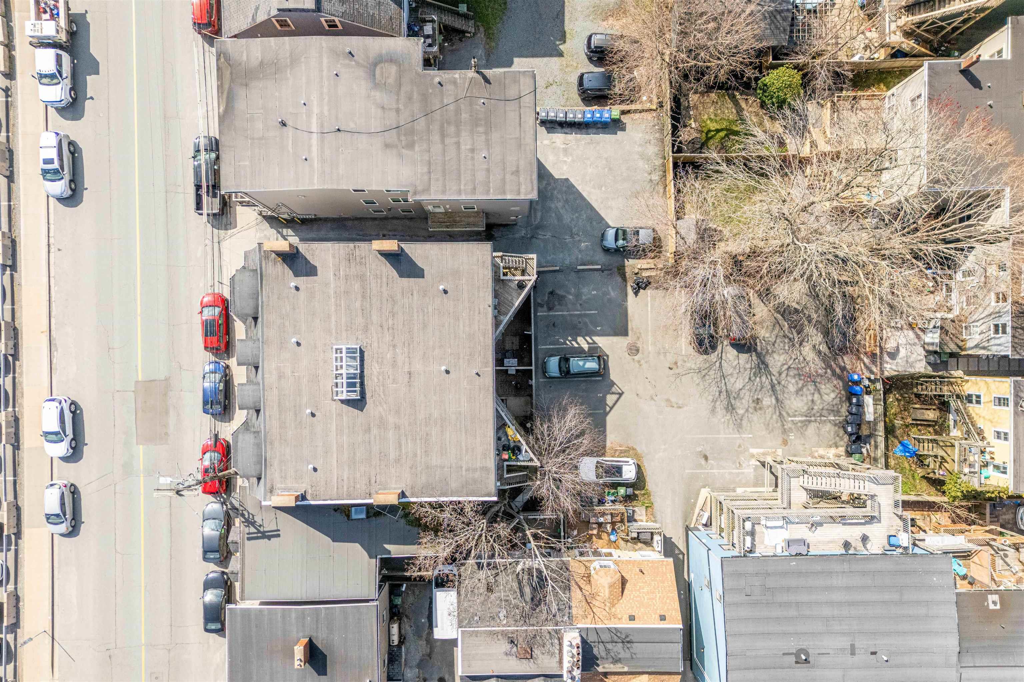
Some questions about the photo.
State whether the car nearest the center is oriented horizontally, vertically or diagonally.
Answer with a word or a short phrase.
horizontally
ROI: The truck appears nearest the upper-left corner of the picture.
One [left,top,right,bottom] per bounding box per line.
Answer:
[22,0,76,108]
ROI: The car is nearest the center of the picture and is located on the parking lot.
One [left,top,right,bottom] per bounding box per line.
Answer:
[543,350,604,382]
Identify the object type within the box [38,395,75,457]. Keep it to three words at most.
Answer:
car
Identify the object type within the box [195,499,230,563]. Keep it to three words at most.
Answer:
car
